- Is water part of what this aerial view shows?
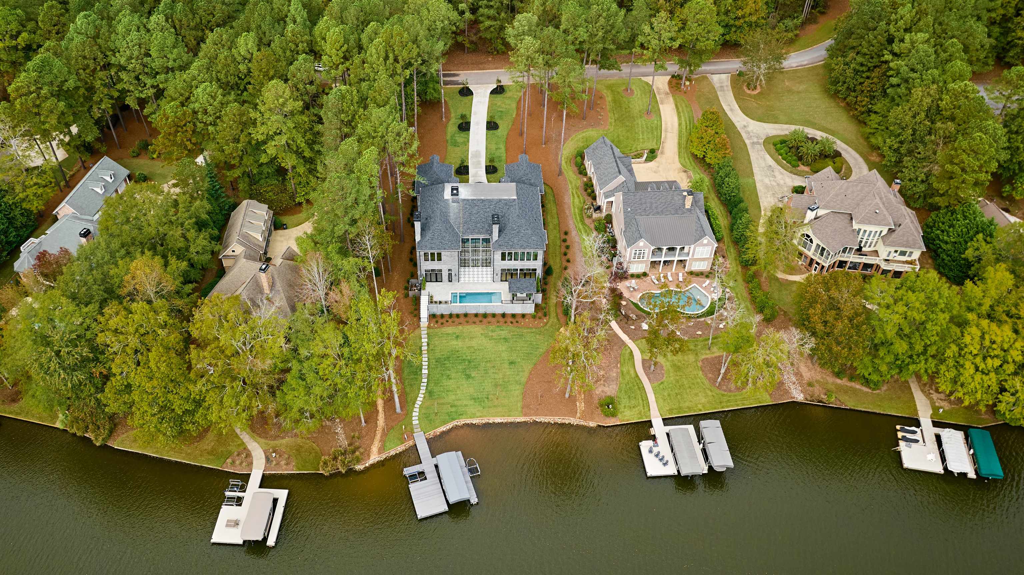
Yes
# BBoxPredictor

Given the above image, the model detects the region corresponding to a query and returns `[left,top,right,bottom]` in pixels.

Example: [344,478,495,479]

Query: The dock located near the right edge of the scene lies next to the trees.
[894,418,977,480]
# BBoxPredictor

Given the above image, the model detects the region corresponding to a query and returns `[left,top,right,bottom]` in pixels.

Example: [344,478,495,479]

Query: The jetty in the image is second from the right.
[638,417,708,480]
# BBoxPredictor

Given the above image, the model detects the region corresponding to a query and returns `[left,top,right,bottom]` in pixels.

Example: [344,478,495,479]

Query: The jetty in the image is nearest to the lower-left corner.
[210,469,290,551]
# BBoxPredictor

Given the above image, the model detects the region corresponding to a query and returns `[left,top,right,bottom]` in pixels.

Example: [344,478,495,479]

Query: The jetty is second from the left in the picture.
[403,431,479,522]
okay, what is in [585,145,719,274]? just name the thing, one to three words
house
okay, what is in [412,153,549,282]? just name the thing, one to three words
house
